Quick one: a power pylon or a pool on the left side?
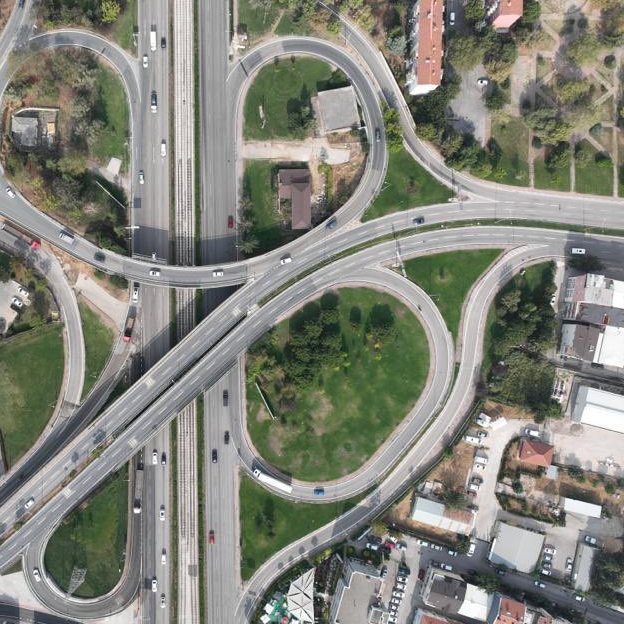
power pylon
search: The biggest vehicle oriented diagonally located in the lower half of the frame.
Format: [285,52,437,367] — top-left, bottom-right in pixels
[254,467,293,495]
